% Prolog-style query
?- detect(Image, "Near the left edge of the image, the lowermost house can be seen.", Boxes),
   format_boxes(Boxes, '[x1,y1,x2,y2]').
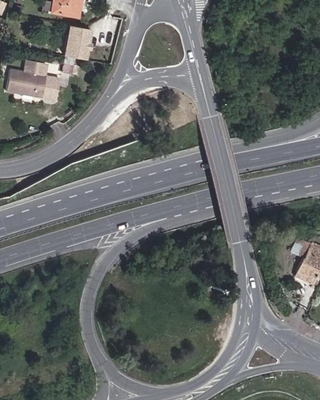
[6,60,68,104]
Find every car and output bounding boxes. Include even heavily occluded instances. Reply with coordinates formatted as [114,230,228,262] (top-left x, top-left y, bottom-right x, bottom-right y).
[106,32,112,44]
[91,36,96,46]
[116,224,128,230]
[198,163,208,170]
[187,50,194,62]
[249,278,256,288]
